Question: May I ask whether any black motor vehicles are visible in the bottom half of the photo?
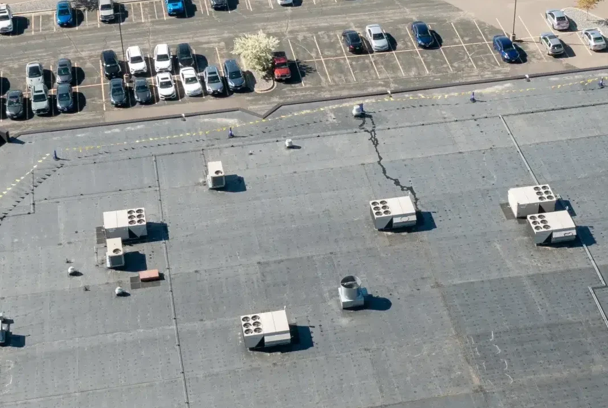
No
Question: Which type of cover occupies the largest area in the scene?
buildings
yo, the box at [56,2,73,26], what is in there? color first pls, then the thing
blue car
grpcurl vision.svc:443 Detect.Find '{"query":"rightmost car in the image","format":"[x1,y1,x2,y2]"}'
[580,30,608,54]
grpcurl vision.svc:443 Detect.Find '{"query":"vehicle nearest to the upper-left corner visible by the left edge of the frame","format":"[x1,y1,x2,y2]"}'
[0,2,13,32]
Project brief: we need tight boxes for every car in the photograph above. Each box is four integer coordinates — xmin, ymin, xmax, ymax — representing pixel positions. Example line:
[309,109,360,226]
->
[56,2,73,26]
[342,32,366,57]
[153,41,174,72]
[4,92,25,121]
[132,79,154,108]
[211,0,226,8]
[164,0,183,15]
[127,45,148,75]
[181,70,203,98]
[580,30,608,54]
[492,38,520,64]
[175,39,195,72]
[543,11,573,34]
[0,2,13,32]
[410,25,435,51]
[366,27,389,53]
[25,64,46,92]
[202,65,225,96]
[538,34,567,59]
[101,46,123,79]
[224,60,246,91]
[156,75,177,104]
[108,80,128,109]
[54,60,75,88]
[28,83,51,116]
[54,86,76,115]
